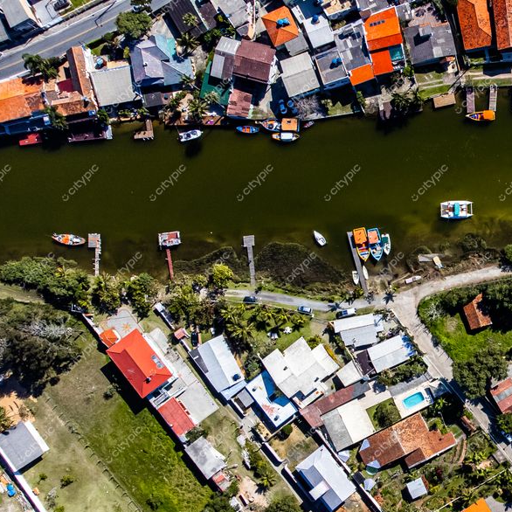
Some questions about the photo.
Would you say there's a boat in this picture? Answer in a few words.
Yes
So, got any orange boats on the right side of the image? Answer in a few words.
Yes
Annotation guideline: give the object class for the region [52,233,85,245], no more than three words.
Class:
boat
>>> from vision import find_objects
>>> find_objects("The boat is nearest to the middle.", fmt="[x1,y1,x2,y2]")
[312,230,326,247]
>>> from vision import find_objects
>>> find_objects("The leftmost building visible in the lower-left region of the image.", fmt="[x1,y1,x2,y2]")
[0,420,51,471]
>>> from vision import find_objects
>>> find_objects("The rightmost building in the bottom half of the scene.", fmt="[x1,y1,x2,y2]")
[491,378,512,414]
